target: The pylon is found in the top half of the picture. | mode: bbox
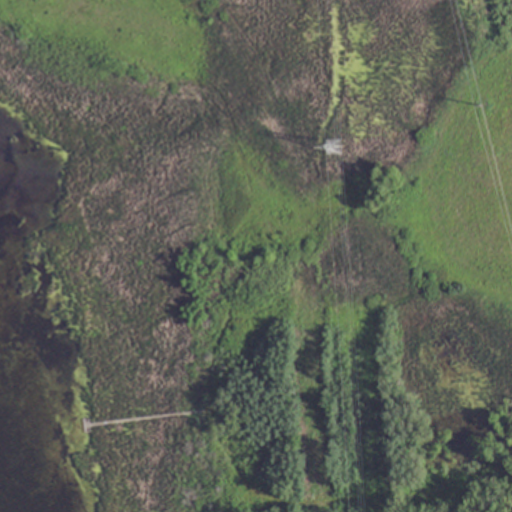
[314,140,344,158]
